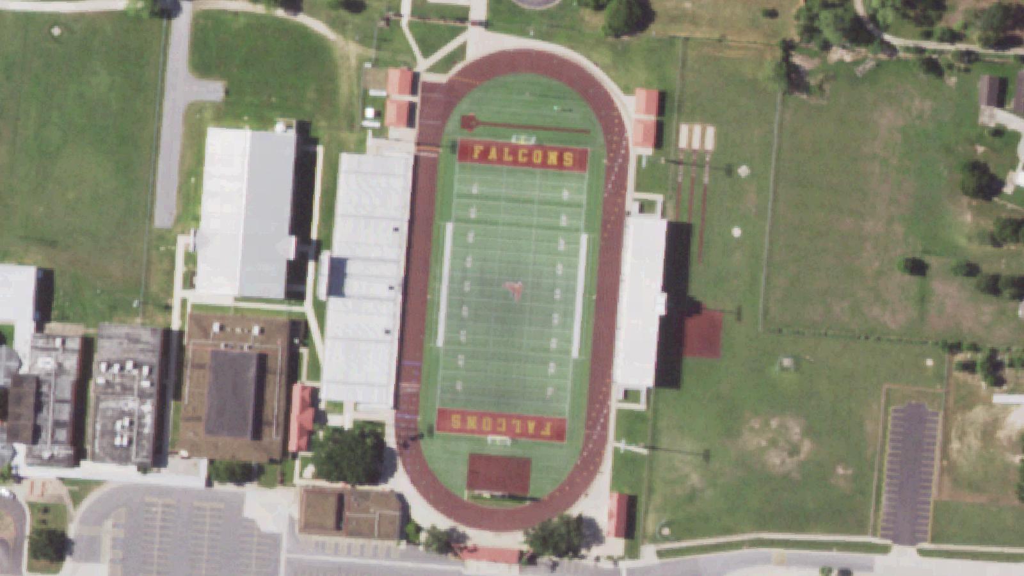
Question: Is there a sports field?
Yes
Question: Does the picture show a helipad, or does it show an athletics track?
athletics track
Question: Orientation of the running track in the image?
vertically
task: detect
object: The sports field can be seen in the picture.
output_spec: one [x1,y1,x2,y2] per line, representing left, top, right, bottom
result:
[420,75,605,506]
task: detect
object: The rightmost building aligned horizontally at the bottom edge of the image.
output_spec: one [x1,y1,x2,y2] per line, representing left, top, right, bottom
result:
[456,543,520,564]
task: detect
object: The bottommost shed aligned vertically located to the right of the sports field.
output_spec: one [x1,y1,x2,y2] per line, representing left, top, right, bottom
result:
[607,492,629,538]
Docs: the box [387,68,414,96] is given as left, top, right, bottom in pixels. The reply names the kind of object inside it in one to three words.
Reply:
shed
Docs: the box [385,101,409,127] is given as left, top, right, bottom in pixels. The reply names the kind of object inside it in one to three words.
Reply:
shed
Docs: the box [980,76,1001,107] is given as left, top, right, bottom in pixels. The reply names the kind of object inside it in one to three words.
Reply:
house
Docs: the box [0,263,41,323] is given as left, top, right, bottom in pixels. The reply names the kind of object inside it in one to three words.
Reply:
building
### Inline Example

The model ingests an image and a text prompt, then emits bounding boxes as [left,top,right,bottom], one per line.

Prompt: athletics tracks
[397,52,628,530]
